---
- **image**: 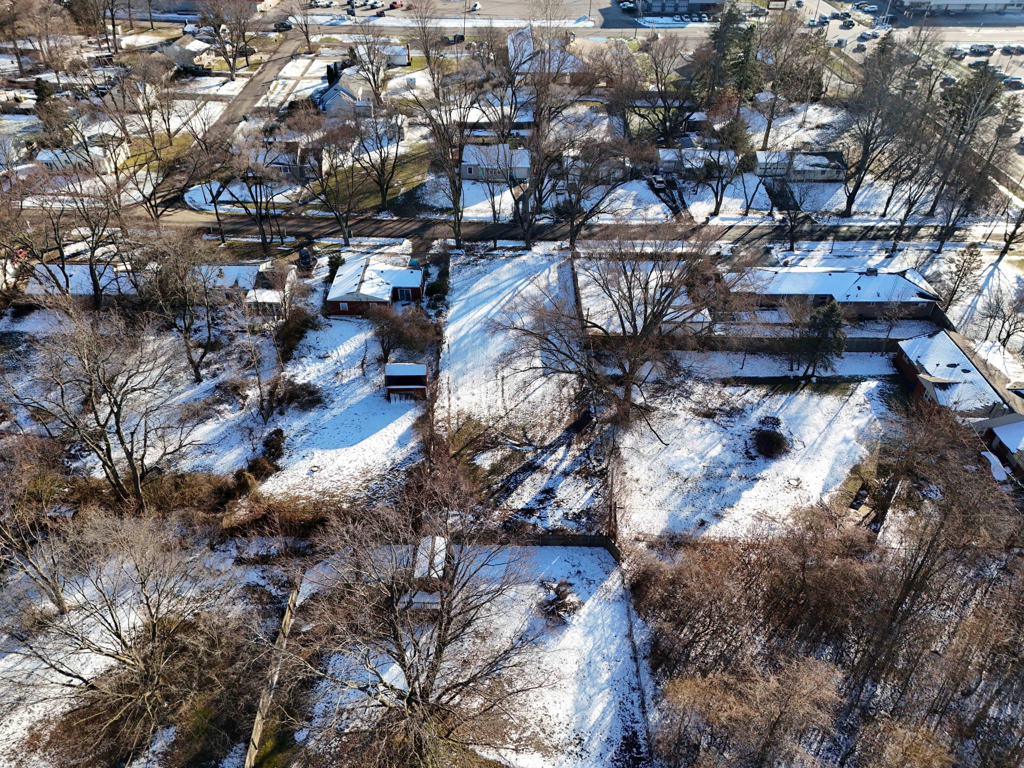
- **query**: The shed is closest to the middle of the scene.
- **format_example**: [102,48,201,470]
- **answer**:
[383,356,428,405]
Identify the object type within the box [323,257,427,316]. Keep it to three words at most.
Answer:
house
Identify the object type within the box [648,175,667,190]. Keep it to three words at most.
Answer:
car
